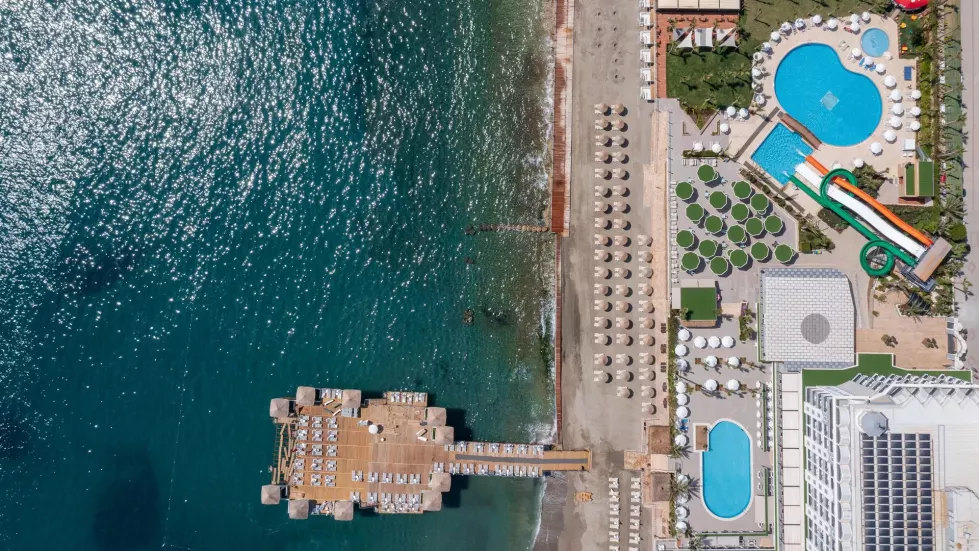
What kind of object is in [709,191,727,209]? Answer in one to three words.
umbrella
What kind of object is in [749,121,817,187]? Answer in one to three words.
swimming pool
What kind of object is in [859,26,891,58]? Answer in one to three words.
swimming pool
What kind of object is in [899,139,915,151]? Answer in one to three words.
gazebo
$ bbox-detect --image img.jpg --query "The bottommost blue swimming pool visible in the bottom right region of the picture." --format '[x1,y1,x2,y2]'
[700,417,754,521]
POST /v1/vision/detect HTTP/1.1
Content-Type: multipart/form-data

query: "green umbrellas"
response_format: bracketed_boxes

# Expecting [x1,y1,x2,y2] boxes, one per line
[710,256,728,275]
[709,191,727,209]
[733,181,751,198]
[731,203,749,220]
[686,204,704,221]
[751,193,768,210]
[728,226,745,243]
[682,252,699,269]
[699,240,716,257]
[764,215,782,232]
[751,242,769,259]
[675,182,692,199]
[706,215,723,232]
[676,230,693,247]
[774,244,793,262]
[698,165,715,182]
[746,218,763,235]
[729,250,747,267]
